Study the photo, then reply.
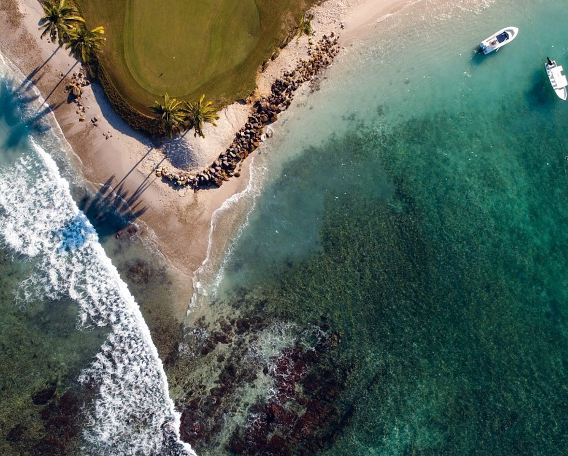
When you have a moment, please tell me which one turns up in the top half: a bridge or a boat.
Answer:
boat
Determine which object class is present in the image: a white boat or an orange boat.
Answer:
white boat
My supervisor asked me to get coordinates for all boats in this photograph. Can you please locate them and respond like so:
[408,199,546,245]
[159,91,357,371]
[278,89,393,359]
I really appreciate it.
[479,26,521,55]
[544,57,568,100]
